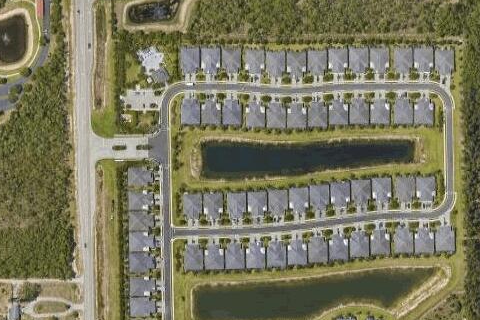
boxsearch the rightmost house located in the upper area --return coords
[436,50,455,75]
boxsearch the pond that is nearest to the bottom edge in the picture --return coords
[193,267,439,320]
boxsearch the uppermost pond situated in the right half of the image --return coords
[201,139,416,179]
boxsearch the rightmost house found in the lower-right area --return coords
[436,227,455,253]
